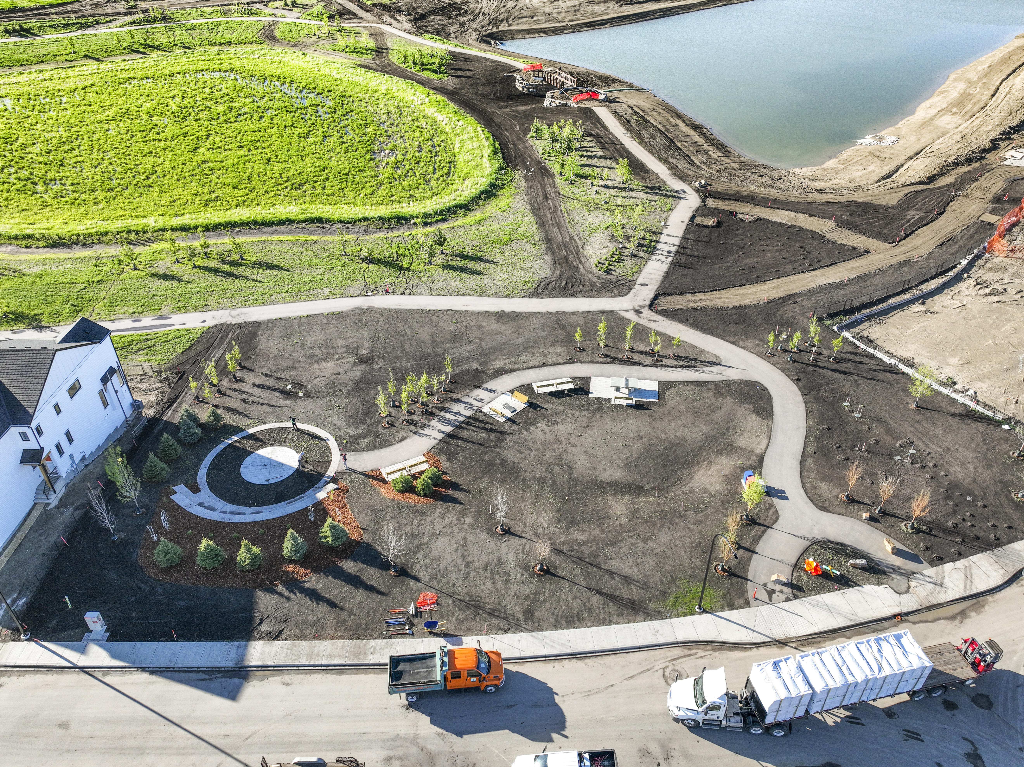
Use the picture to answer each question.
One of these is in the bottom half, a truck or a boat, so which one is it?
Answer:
truck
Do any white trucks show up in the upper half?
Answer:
No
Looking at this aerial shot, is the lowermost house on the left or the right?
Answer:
left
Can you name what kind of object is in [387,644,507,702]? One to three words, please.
truck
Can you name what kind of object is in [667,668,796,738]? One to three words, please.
truck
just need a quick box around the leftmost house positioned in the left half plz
[0,319,134,528]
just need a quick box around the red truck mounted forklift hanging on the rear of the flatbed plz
[954,635,1010,685]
